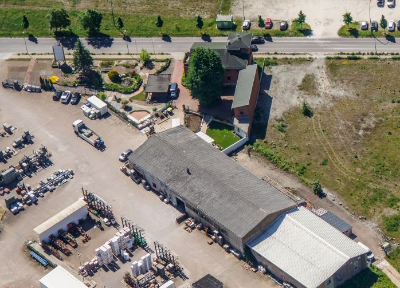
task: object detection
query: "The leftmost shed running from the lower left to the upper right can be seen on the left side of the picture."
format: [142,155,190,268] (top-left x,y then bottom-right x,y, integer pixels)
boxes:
[31,199,89,247]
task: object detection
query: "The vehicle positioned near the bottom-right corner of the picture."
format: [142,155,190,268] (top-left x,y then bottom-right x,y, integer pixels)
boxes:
[358,239,376,260]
